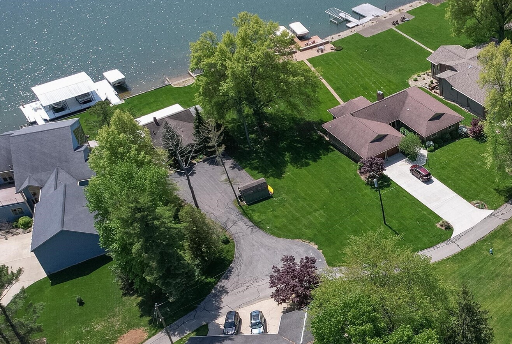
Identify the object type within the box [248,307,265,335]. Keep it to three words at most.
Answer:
car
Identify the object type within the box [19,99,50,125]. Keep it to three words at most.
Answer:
pier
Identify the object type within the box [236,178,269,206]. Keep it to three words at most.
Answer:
shed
